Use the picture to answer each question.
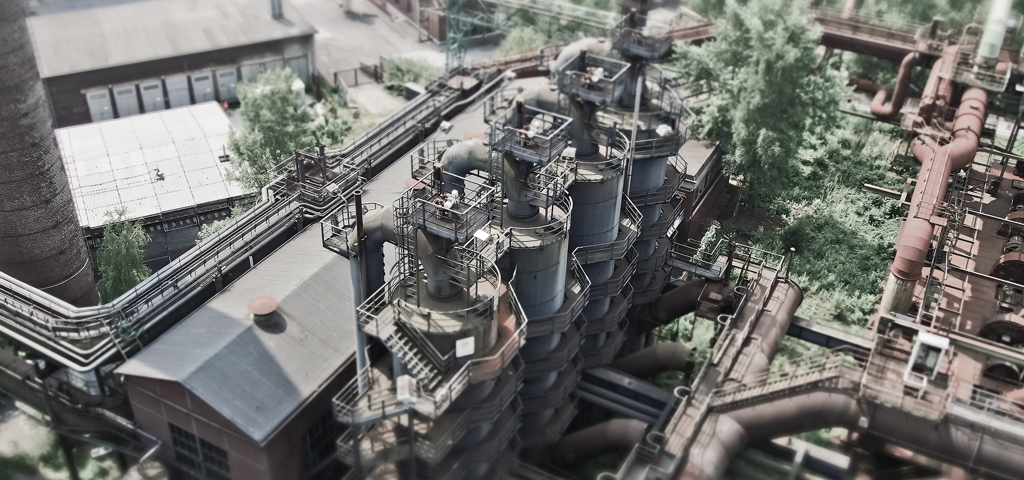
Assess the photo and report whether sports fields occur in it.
No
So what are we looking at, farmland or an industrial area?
industrial area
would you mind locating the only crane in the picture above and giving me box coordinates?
[442,0,649,69]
